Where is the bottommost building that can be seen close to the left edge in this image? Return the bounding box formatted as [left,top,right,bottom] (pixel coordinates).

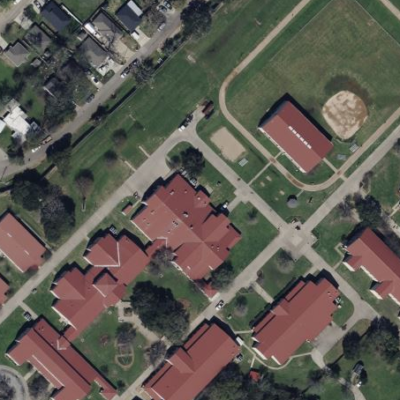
[4,319,116,400]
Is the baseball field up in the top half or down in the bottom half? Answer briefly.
top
